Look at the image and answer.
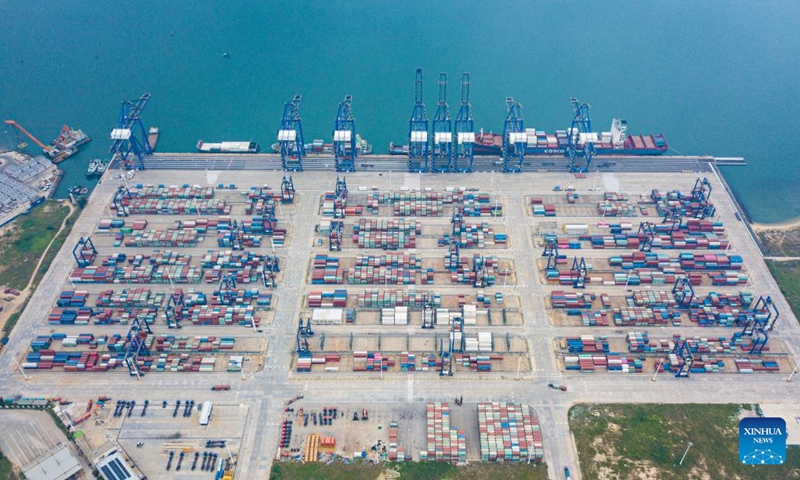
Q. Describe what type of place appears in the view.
port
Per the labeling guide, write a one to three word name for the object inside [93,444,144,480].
building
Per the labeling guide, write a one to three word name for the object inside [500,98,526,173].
container crane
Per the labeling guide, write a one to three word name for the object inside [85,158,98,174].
boat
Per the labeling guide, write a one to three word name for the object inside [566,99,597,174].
container crane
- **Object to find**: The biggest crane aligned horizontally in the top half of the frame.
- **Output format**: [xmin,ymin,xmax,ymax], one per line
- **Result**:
[5,121,89,161]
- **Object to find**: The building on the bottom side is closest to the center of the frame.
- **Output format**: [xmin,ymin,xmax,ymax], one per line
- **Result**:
[312,303,343,324]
